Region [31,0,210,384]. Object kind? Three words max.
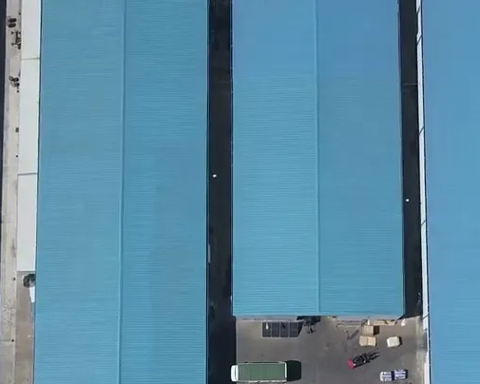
warehouse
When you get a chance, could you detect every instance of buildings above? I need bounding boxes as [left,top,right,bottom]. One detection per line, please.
[416,0,480,384]
[31,0,210,384]
[230,0,406,320]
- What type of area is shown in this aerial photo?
industrial area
